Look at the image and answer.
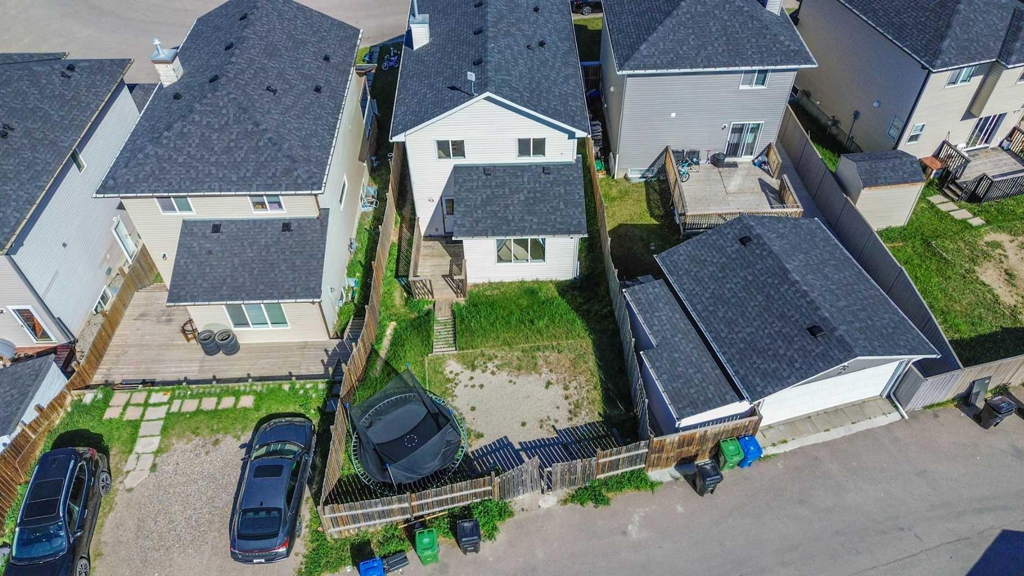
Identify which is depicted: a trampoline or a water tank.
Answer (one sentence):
The image shows a trampoline.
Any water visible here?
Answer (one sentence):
No, there is no water in the image.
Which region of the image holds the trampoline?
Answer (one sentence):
The trampoline sits in the bottom section of the image.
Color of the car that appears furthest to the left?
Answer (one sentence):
From above, the car that appears furthest to the left appears black.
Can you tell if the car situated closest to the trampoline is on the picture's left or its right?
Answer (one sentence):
The car situated closest to the trampoline sits on the left side.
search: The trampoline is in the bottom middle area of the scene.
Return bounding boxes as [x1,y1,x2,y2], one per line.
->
[345,366,469,504]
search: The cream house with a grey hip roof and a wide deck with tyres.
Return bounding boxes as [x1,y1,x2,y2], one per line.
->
[91,0,391,347]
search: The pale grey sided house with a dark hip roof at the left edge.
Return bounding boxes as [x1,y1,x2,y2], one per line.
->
[0,53,146,343]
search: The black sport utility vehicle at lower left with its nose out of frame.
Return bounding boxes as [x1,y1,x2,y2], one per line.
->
[3,447,107,576]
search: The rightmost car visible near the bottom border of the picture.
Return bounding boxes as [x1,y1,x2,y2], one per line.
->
[230,420,316,561]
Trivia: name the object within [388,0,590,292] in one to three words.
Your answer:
house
